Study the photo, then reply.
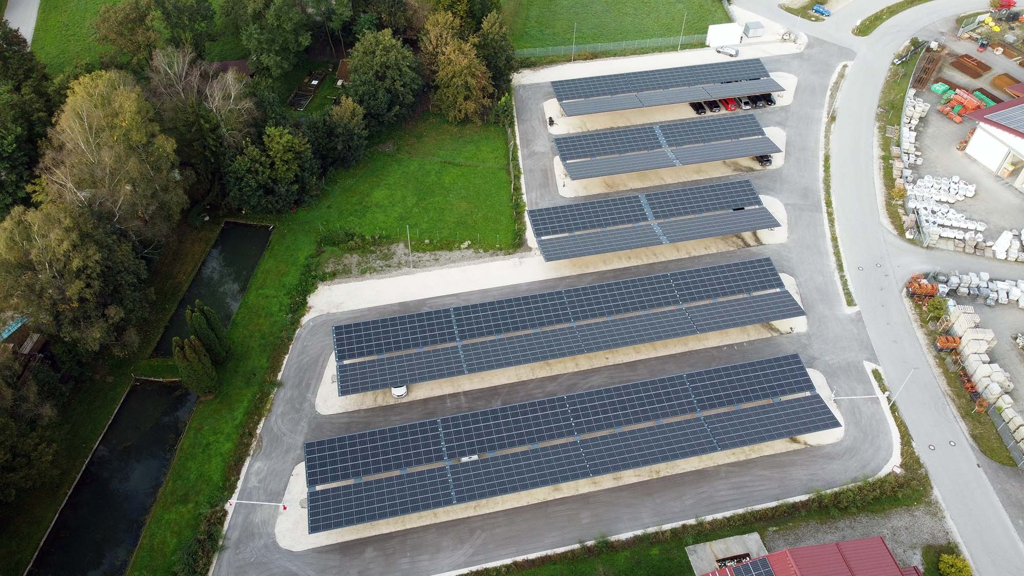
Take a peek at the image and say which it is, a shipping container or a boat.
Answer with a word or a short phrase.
shipping container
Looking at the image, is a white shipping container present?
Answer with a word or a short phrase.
Yes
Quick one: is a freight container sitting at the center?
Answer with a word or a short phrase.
No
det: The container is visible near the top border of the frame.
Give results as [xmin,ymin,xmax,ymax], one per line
[704,21,744,46]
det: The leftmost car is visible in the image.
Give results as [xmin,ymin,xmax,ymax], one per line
[389,386,406,401]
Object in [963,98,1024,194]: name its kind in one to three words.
building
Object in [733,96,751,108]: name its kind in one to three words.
vehicle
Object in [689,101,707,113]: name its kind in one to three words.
vehicle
